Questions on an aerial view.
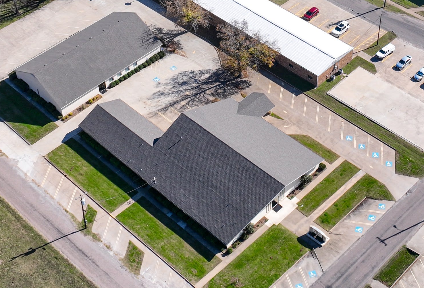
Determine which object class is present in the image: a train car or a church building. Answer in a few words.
church building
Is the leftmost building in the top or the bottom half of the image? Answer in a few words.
top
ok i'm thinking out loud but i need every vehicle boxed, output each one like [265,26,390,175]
[375,42,397,60]
[331,19,350,36]
[302,4,321,20]
[412,66,424,82]
[395,55,413,70]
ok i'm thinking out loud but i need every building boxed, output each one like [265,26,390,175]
[13,11,164,115]
[76,96,323,248]
[176,0,353,84]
